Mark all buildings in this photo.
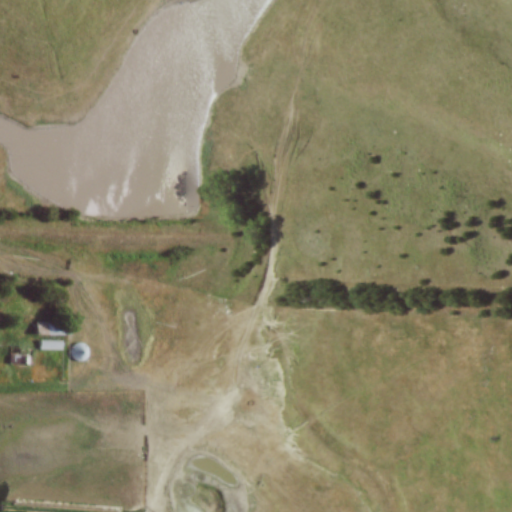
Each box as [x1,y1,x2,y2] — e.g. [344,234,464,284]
[10,350,32,366]
[40,340,64,351]
[38,322,66,335]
